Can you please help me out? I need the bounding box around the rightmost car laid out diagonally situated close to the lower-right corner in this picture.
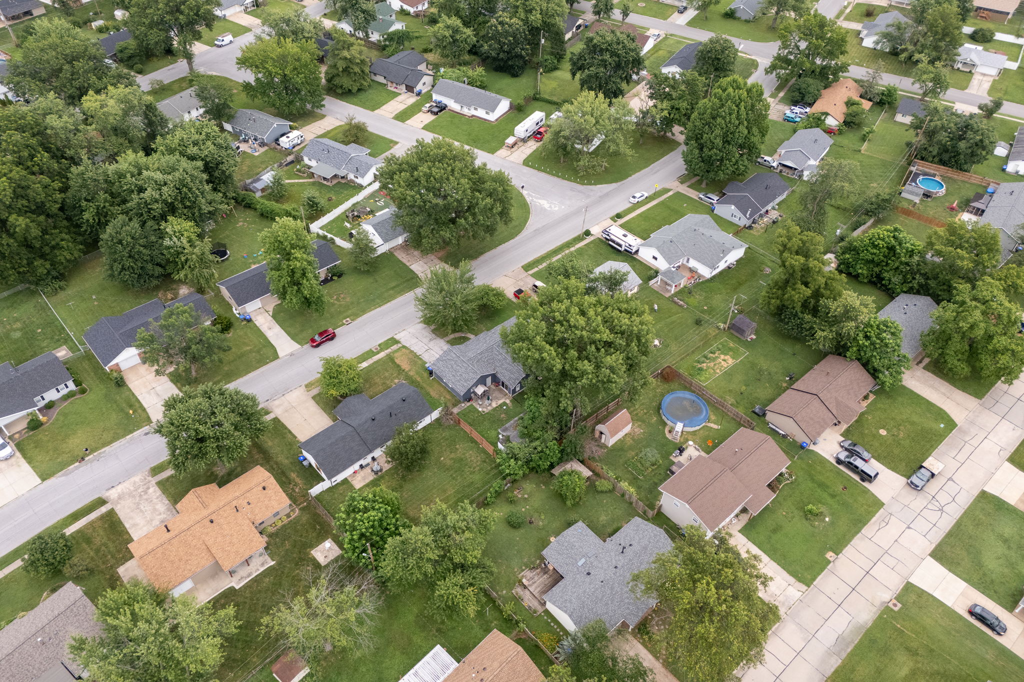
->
[966,603,1009,637]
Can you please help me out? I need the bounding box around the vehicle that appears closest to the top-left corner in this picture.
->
[213,32,235,46]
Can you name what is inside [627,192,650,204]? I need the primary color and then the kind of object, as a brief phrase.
white vehicle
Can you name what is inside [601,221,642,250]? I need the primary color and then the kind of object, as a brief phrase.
white vehicle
